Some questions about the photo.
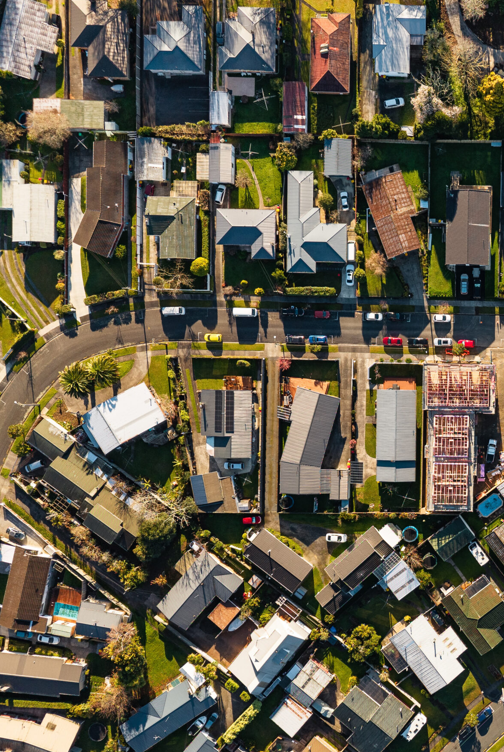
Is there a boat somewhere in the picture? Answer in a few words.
Yes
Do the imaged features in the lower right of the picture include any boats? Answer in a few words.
Yes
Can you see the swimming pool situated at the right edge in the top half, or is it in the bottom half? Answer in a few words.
bottom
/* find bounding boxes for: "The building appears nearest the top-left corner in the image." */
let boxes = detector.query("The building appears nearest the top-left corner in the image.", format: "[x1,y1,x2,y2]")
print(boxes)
[0,0,60,83]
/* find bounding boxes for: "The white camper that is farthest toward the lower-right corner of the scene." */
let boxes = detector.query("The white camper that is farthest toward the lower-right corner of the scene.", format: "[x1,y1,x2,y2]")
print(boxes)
[401,708,428,741]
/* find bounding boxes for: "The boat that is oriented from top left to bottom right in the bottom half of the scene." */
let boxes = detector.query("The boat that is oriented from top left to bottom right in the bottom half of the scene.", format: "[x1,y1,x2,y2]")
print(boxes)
[470,543,491,567]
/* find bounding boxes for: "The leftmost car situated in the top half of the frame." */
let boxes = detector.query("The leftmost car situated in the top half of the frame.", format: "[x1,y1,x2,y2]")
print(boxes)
[144,183,157,199]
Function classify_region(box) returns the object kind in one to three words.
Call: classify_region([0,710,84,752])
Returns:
house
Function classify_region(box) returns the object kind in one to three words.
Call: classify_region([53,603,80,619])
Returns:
swimming pool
